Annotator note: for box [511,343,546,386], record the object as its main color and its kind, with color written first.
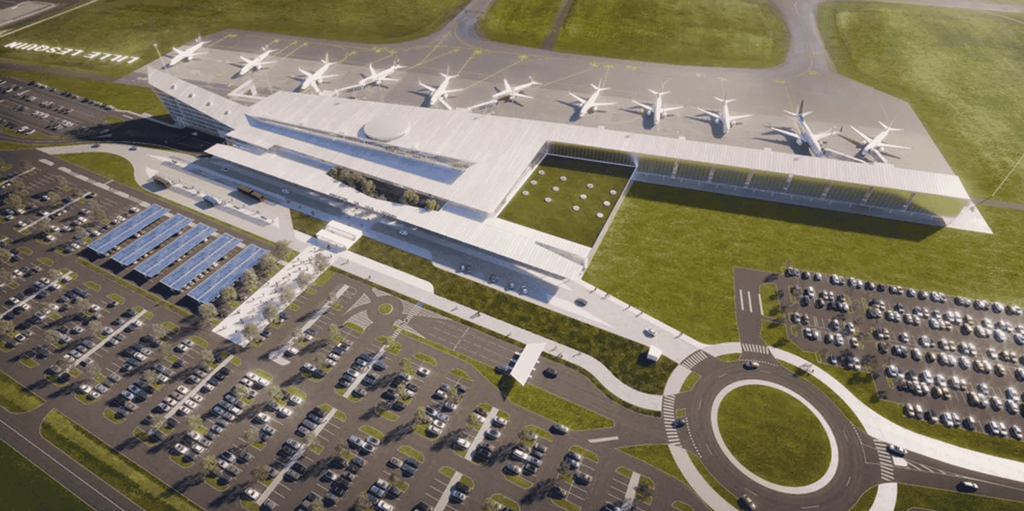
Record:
white toll station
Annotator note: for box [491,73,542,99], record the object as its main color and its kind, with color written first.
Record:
white airplane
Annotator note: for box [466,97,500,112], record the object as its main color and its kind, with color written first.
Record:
white jet bridge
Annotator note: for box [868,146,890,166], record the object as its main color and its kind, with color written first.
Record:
white jet bridge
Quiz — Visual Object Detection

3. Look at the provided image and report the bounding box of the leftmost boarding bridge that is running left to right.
[334,82,367,98]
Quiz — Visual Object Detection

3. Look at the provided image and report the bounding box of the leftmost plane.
[168,32,210,65]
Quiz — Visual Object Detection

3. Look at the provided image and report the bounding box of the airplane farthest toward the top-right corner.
[852,118,911,155]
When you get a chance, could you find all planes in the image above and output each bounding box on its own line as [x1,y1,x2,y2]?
[491,73,542,99]
[357,56,406,84]
[570,78,618,117]
[238,42,278,75]
[698,89,753,134]
[632,85,684,125]
[168,32,210,65]
[300,53,340,89]
[852,118,911,155]
[420,66,465,105]
[770,97,842,157]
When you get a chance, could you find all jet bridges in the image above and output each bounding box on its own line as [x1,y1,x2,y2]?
[466,97,500,112]
[437,96,455,111]
[868,146,890,166]
[824,145,868,163]
[334,82,367,98]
